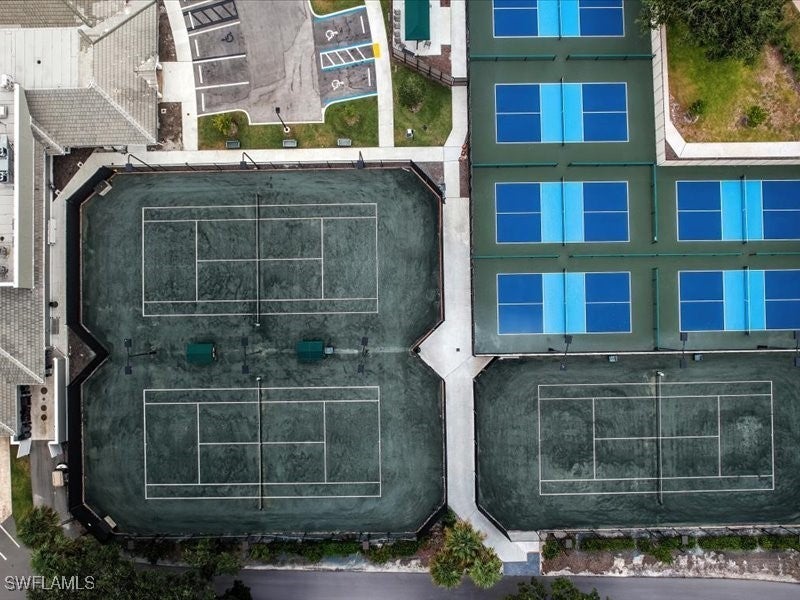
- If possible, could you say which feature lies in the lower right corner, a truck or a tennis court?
tennis court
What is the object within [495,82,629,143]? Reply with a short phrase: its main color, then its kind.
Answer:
blue sports court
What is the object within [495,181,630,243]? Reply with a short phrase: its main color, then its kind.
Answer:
blue sports court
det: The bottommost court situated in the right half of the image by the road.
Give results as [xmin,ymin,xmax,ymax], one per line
[475,348,800,531]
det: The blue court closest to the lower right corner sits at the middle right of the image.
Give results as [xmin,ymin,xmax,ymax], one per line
[679,270,800,332]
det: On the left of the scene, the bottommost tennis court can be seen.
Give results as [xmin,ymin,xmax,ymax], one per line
[80,350,447,534]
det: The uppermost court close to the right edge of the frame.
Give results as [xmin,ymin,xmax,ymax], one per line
[677,180,800,241]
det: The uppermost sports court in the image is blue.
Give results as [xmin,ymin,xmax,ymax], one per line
[492,0,625,38]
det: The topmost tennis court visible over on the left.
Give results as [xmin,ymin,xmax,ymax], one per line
[80,166,444,352]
